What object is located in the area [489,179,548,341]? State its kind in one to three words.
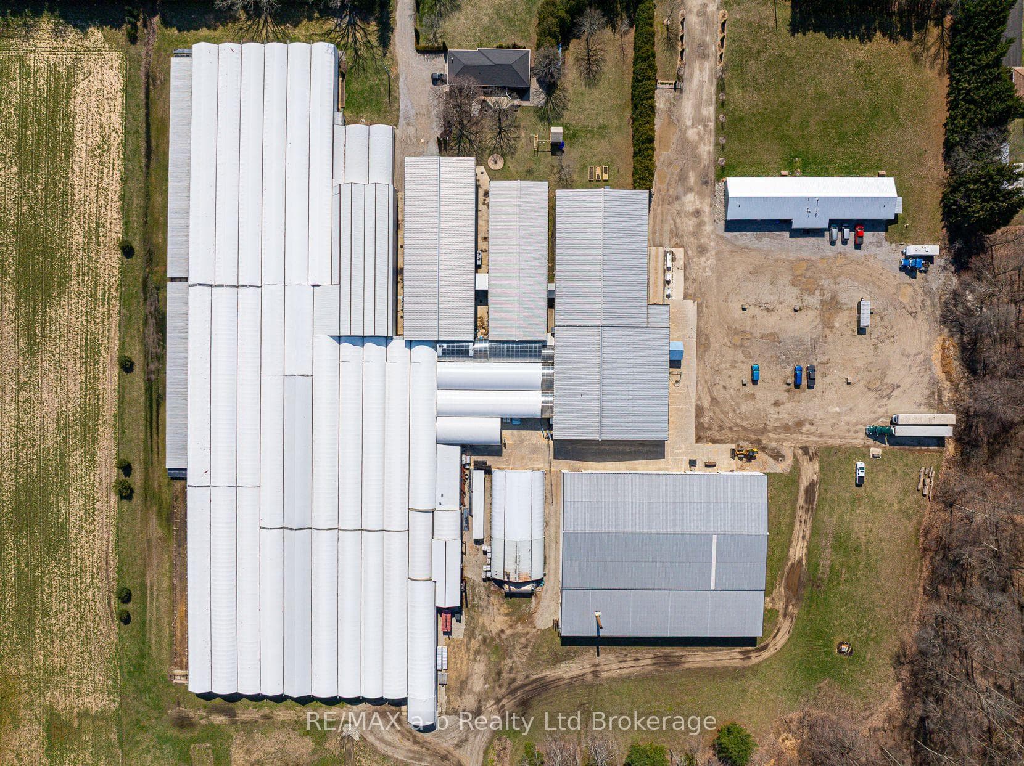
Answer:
shed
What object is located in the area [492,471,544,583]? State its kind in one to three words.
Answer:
shed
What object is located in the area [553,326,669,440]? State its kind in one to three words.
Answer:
building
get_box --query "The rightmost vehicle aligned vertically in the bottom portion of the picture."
[854,461,866,485]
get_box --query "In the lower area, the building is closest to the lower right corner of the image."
[562,470,769,637]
